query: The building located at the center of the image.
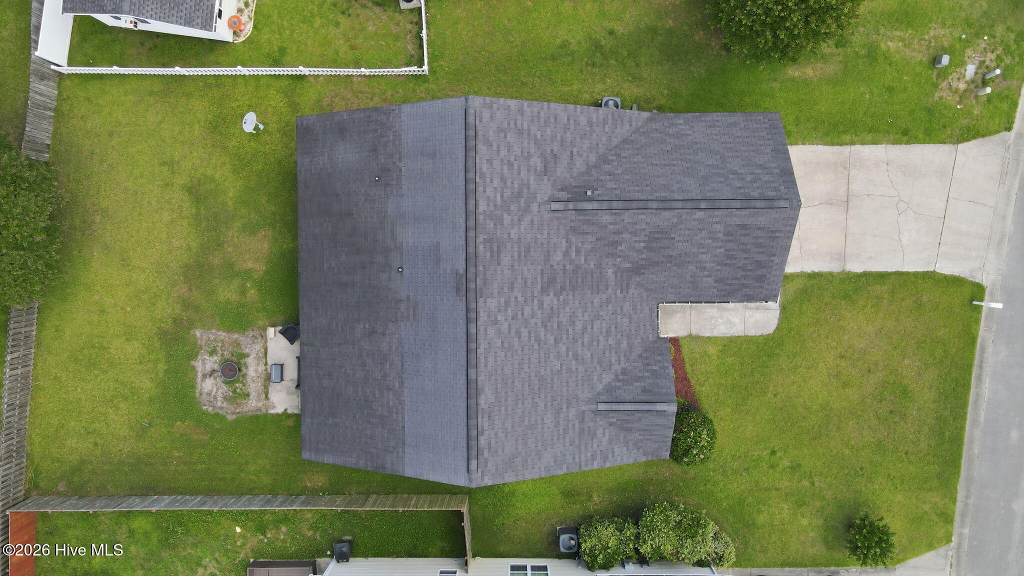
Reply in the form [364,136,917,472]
[295,95,801,488]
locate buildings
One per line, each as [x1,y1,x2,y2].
[295,95,801,488]
[310,549,715,576]
[63,0,237,42]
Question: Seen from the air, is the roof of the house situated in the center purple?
No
